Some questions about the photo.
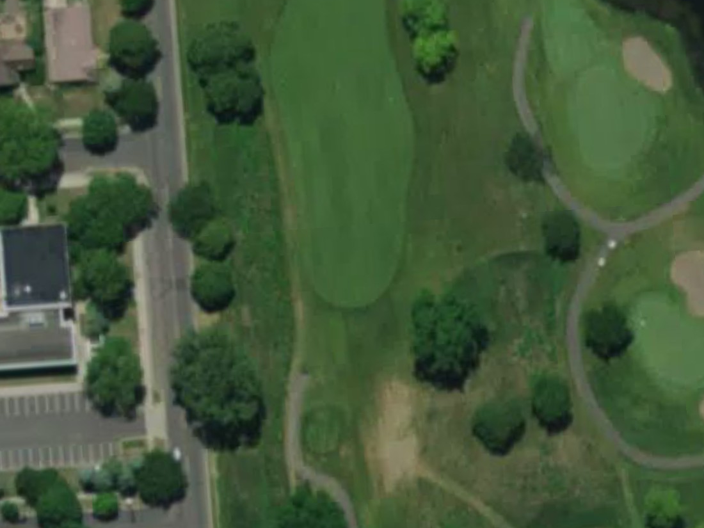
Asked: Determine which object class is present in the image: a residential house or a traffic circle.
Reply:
residential house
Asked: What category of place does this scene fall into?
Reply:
golf course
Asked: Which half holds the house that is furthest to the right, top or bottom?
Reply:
top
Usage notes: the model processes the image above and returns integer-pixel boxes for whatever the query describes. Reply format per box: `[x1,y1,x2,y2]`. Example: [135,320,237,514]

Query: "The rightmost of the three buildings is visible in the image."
[45,2,97,82]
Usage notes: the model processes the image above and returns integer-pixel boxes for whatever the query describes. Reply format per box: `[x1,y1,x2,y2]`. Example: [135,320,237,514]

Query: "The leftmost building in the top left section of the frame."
[0,42,34,86]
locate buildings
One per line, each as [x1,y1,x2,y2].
[0,42,34,86]
[0,226,76,368]
[45,2,97,82]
